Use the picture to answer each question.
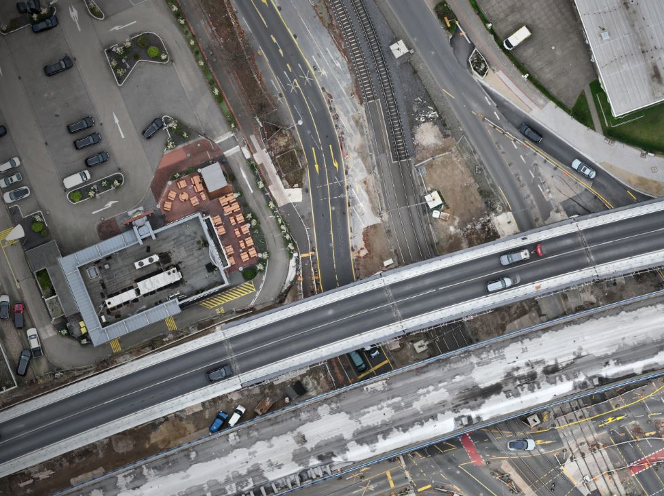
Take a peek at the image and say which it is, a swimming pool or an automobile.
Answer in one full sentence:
I can see an automobile in this picture.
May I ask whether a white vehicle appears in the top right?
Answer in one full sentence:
Yes, a white vehicle can be seen in the top right.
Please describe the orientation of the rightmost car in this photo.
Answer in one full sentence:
In this picture, the rightmost car lies at an angle.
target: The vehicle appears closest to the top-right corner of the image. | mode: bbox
[502,25,531,49]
